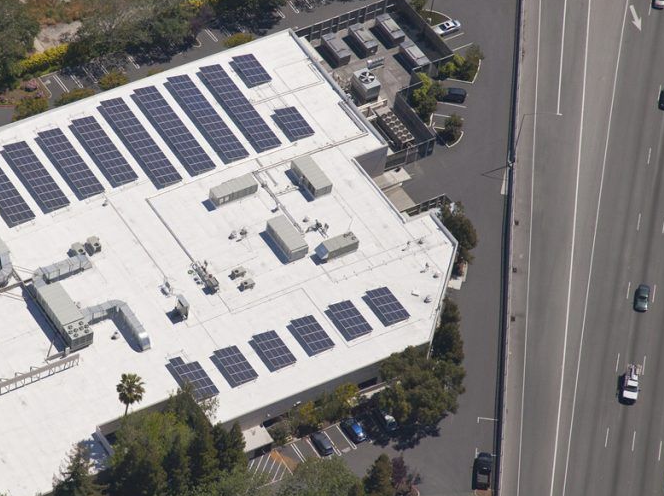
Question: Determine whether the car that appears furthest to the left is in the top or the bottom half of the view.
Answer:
bottom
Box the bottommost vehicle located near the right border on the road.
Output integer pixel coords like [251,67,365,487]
[621,363,640,404]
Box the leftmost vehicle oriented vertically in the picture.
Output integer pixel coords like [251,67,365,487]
[473,455,492,489]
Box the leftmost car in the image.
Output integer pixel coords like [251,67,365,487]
[309,428,336,459]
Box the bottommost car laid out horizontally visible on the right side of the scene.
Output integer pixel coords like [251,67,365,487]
[439,87,471,103]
